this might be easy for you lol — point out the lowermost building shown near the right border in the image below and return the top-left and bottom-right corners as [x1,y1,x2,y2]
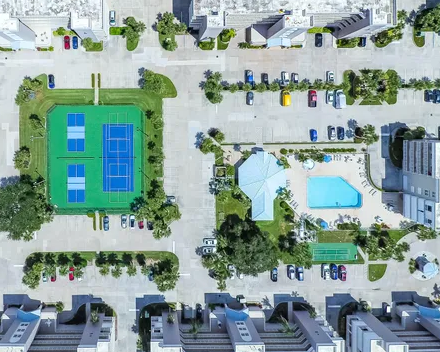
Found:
[344,305,440,352]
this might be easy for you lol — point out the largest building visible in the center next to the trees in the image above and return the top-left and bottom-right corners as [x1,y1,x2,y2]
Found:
[239,151,286,220]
